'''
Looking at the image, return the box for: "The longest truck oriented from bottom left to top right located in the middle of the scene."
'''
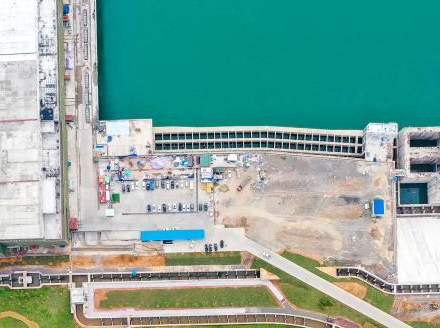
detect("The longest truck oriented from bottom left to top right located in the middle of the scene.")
[229,173,252,199]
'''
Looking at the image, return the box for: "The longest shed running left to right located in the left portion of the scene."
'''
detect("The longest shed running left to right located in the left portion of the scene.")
[141,229,204,241]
